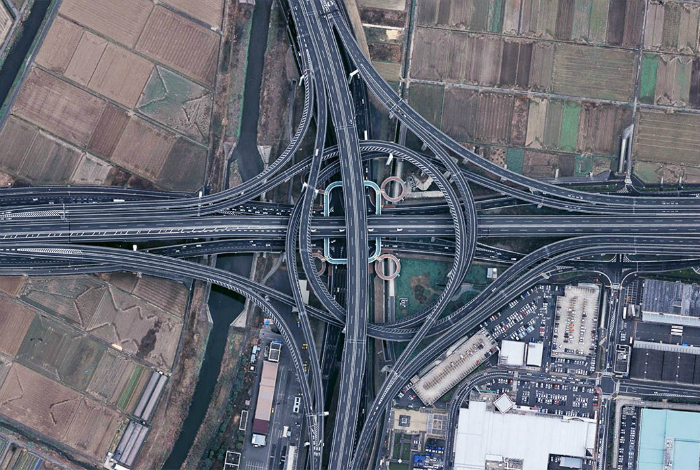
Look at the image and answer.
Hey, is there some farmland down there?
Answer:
Yes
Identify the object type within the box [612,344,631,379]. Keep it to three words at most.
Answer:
building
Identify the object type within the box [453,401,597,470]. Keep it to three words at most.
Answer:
building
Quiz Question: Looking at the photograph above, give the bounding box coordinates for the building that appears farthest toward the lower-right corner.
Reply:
[636,408,700,470]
